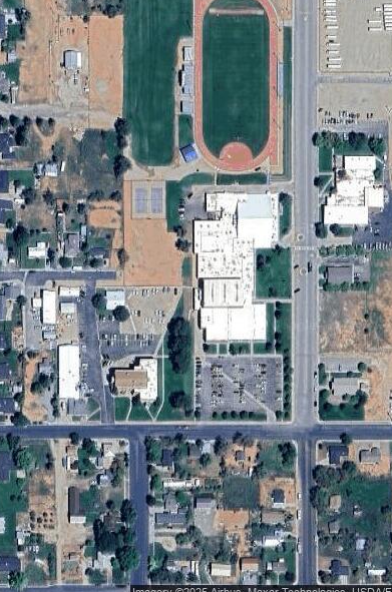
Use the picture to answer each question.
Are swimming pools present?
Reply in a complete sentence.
No, I can't see a single swimming pool in this photo.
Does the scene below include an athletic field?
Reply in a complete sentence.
Yes, the frame does contain an athletic field.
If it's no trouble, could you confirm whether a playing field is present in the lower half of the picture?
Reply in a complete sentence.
No, I see no playing field in the lower half of the picture.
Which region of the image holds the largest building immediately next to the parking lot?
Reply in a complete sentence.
The largest building immediately next to the parking lot sits in the center section of the image.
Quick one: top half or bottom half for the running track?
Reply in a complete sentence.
It is in the top half that the running track appears.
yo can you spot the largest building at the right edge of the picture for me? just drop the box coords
[324,156,384,224]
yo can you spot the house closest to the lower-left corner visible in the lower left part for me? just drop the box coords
[0,557,22,571]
